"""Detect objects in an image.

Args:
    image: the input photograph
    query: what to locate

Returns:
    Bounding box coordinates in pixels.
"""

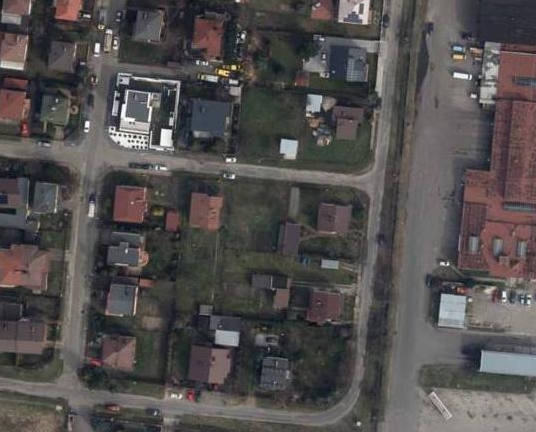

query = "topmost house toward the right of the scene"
[338,0,371,26]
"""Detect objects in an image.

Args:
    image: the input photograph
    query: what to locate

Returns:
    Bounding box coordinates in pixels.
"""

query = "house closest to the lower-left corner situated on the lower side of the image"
[0,304,48,354]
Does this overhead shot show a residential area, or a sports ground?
residential area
